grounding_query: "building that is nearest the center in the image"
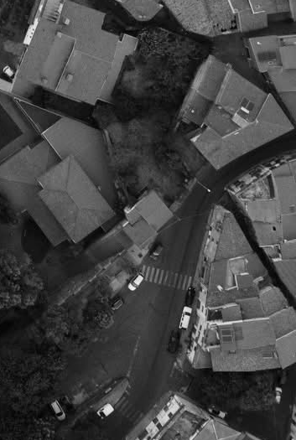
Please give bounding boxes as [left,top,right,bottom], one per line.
[119,185,175,247]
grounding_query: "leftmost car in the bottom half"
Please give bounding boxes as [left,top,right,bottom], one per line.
[50,399,66,420]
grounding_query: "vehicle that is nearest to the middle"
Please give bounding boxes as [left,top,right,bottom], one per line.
[149,238,165,261]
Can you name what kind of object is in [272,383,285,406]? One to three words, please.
vehicle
